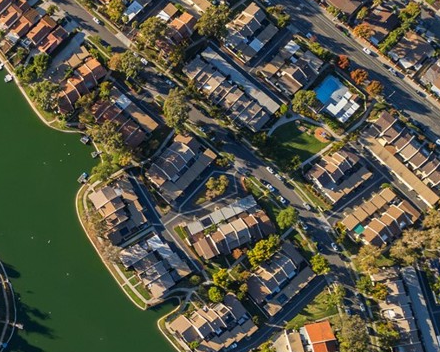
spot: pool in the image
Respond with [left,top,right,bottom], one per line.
[315,74,341,104]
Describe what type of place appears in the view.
residential area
